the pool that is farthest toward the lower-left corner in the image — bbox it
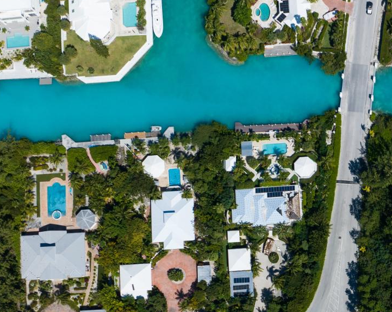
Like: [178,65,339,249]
[47,181,67,220]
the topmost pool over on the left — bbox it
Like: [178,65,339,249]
[122,1,137,27]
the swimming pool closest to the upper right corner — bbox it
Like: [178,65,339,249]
[255,2,271,21]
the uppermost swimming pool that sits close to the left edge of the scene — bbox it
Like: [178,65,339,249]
[6,32,30,49]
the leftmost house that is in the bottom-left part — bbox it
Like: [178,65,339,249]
[20,230,89,280]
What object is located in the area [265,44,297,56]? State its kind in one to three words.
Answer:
pier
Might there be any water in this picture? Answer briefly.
Yes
